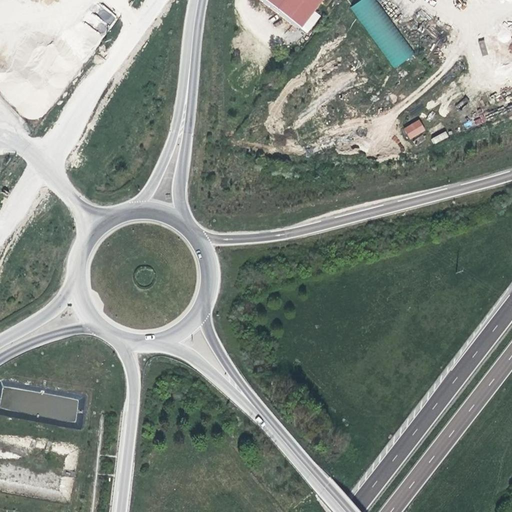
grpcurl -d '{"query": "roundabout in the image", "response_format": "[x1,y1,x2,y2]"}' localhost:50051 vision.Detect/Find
[68,200,220,352]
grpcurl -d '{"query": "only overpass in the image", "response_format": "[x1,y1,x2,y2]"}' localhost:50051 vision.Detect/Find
[314,478,360,512]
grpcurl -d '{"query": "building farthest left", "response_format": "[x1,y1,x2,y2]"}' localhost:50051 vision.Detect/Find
[260,0,323,34]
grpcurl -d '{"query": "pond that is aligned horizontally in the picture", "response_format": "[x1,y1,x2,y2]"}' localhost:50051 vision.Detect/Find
[0,379,89,432]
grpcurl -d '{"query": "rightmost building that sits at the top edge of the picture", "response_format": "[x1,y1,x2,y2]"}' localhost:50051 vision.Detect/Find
[351,0,415,66]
